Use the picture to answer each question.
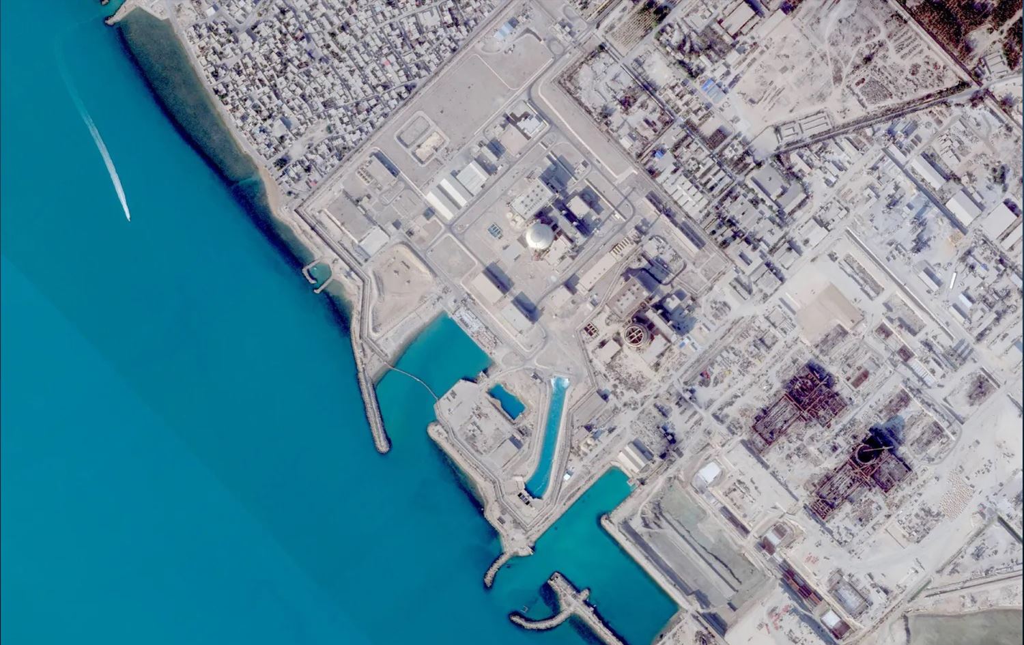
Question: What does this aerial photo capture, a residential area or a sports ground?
residential area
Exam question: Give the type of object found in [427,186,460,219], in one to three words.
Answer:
shed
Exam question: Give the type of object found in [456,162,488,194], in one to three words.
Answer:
shed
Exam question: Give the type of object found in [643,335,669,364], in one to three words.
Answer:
building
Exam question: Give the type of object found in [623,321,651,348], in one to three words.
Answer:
building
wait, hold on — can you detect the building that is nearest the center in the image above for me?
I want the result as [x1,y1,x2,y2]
[502,301,532,332]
